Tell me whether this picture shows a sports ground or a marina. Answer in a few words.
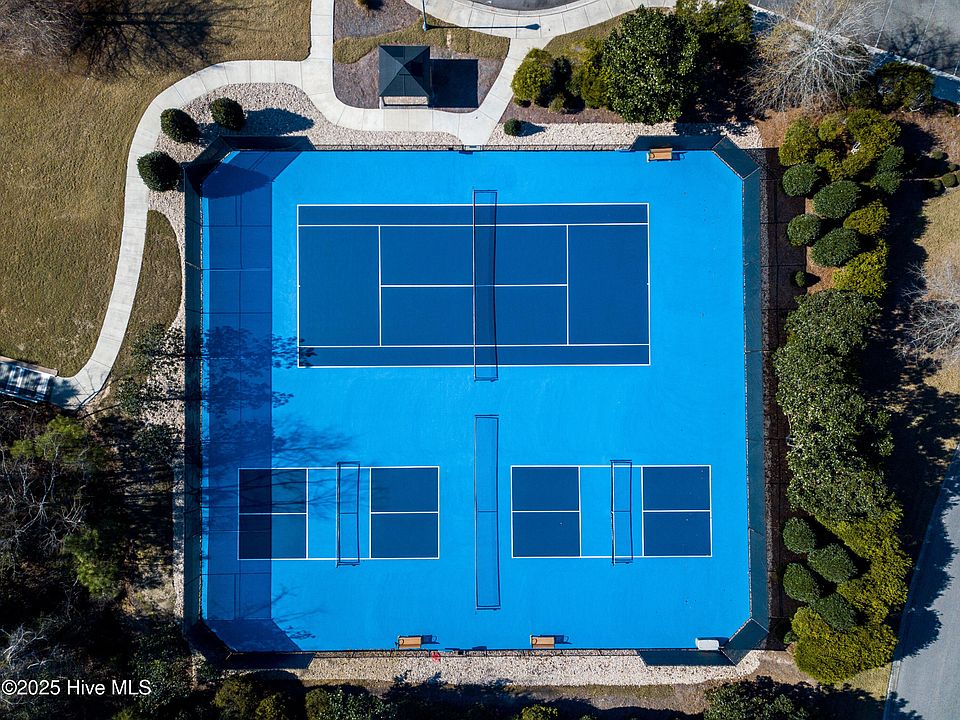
sports ground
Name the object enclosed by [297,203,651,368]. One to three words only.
tennis court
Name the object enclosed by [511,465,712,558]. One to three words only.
sports court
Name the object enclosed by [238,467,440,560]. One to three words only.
sports court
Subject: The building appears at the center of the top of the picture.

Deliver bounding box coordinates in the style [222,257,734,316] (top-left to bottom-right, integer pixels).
[379,46,432,108]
